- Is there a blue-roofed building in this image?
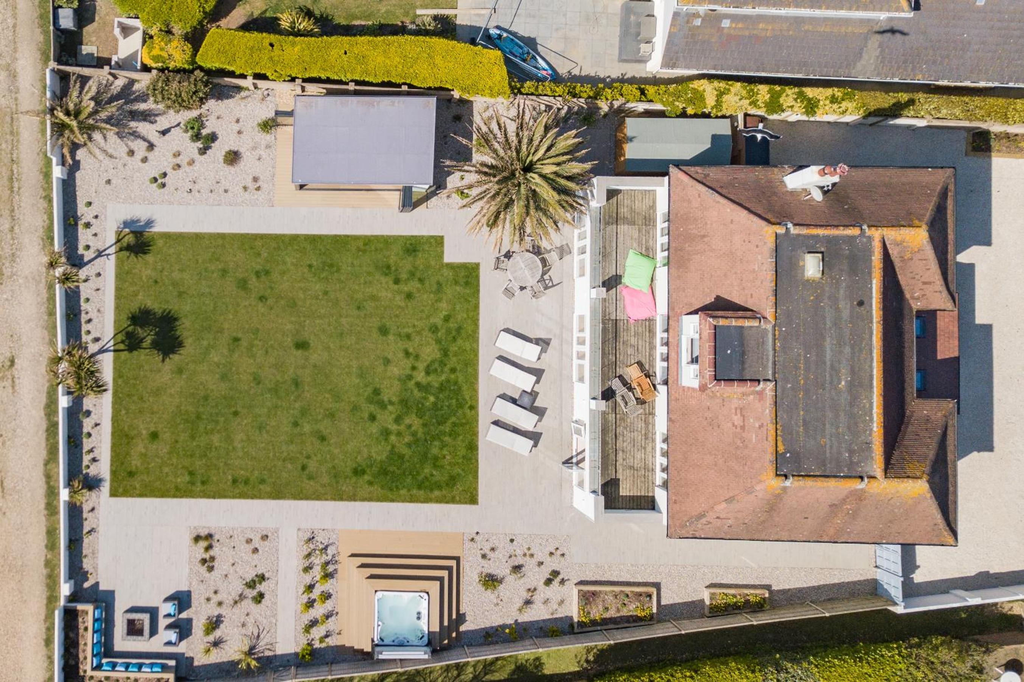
No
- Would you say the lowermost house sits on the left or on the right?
right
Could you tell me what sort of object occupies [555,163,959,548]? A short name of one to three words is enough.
house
